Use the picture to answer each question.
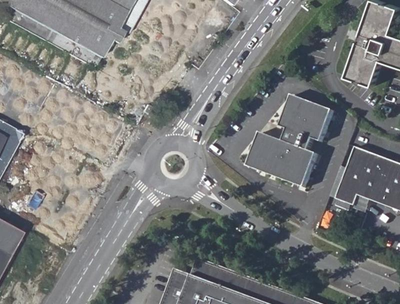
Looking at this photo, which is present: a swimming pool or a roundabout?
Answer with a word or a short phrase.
roundabout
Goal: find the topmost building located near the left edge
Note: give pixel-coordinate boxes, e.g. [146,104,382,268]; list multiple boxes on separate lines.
[4,0,138,58]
